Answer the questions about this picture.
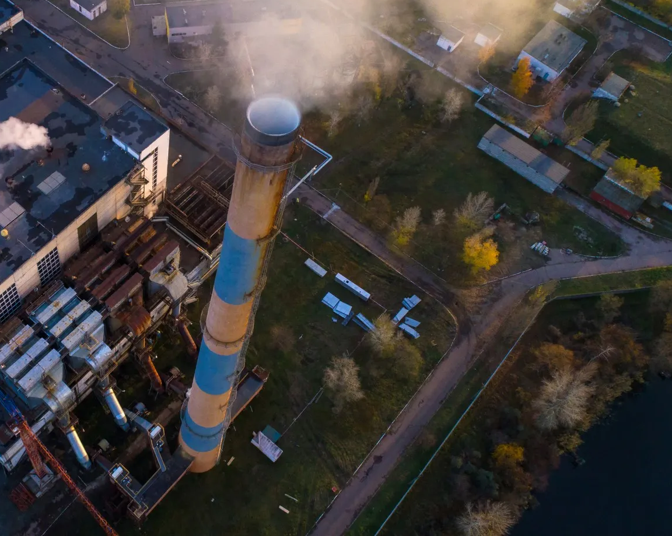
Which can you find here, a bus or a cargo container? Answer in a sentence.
This aerial view contains a cargo container.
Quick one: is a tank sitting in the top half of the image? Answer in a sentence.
No, in the top half of the image there is no tank.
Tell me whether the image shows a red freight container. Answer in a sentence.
No, no red freight container is visible in the view.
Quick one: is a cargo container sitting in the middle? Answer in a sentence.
Yes, I can see a cargo container in the middle.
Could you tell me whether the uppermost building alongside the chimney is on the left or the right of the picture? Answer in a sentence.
You can find the uppermost building alongside the chimney on the left side of the picture.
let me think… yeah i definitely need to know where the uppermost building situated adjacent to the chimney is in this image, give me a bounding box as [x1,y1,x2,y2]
[164,0,303,42]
